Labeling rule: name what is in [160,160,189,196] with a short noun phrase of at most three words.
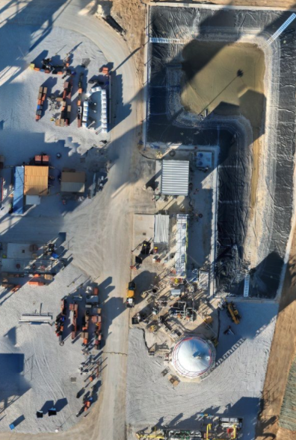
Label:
shed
